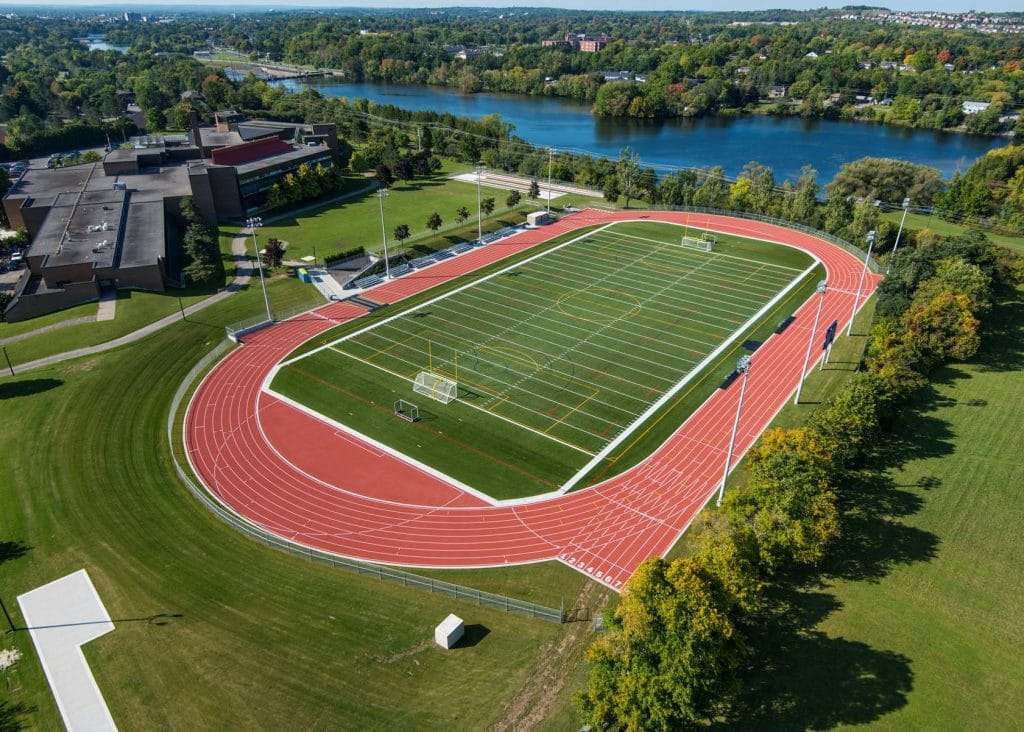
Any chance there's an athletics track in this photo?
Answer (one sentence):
Yes, an athletics track is visible in the scene.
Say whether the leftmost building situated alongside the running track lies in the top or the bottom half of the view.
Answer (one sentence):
The leftmost building situated alongside the running track sits in the top half of the picture.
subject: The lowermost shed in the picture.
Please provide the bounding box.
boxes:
[434,611,463,648]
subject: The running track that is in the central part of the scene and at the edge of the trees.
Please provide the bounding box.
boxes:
[185,206,878,595]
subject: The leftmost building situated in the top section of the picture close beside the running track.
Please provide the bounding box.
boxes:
[0,110,340,321]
